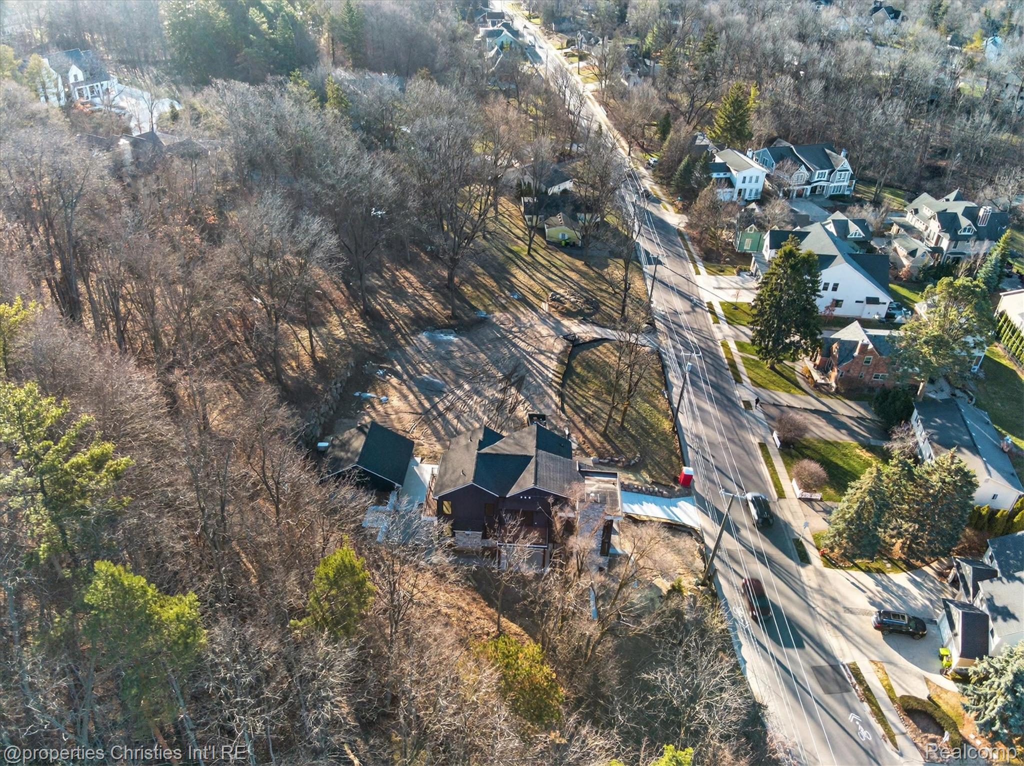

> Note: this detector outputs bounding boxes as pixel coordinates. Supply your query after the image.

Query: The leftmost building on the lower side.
[316,422,417,498]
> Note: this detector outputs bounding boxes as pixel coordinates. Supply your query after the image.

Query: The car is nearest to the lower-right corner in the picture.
[871,604,933,645]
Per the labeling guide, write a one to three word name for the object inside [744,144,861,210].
house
